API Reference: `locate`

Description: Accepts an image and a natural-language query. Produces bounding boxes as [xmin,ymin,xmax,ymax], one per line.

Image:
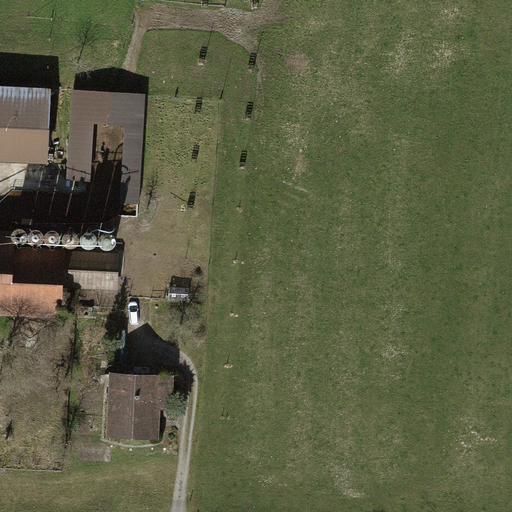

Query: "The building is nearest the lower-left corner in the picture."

[103,367,175,442]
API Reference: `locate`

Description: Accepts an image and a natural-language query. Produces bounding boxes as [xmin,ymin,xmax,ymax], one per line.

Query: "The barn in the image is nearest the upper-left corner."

[0,86,51,164]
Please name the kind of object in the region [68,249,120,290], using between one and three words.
shed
